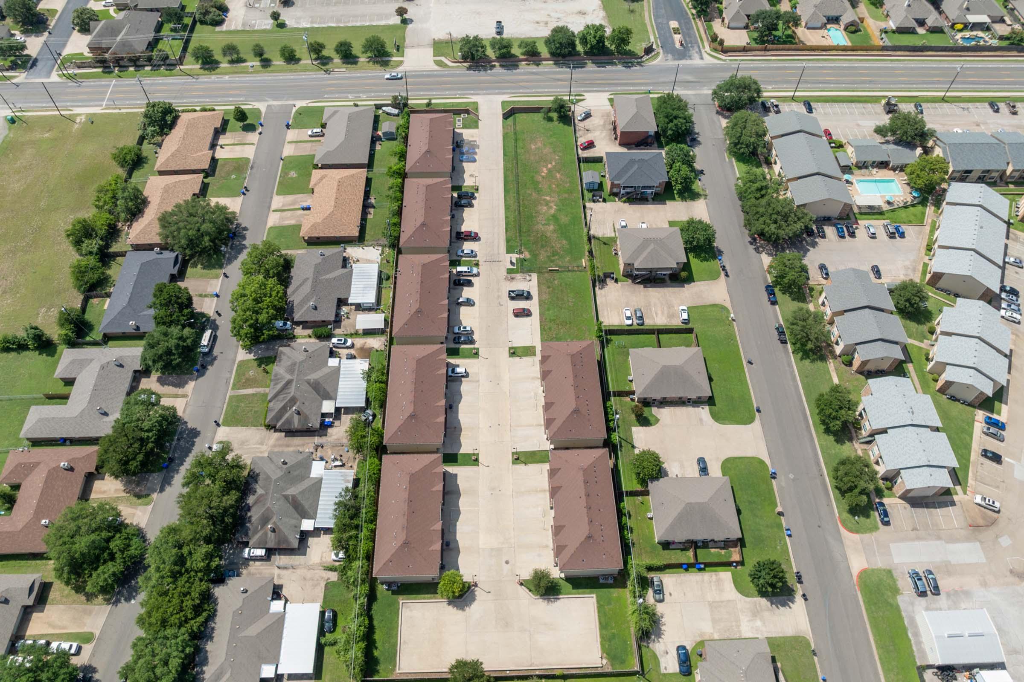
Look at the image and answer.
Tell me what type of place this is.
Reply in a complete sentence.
The picture captures a residential area.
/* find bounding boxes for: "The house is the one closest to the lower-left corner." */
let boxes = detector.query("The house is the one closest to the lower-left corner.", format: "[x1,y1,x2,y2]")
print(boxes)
[0,572,48,668]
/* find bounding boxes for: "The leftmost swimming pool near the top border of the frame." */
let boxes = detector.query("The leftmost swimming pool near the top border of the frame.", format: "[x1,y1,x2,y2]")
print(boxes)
[826,26,848,45]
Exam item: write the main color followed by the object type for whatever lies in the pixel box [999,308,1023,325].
white car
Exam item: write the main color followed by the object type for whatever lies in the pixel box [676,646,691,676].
blue car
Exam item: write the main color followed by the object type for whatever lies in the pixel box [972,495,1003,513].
white car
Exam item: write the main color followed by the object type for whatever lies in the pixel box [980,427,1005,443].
gray car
